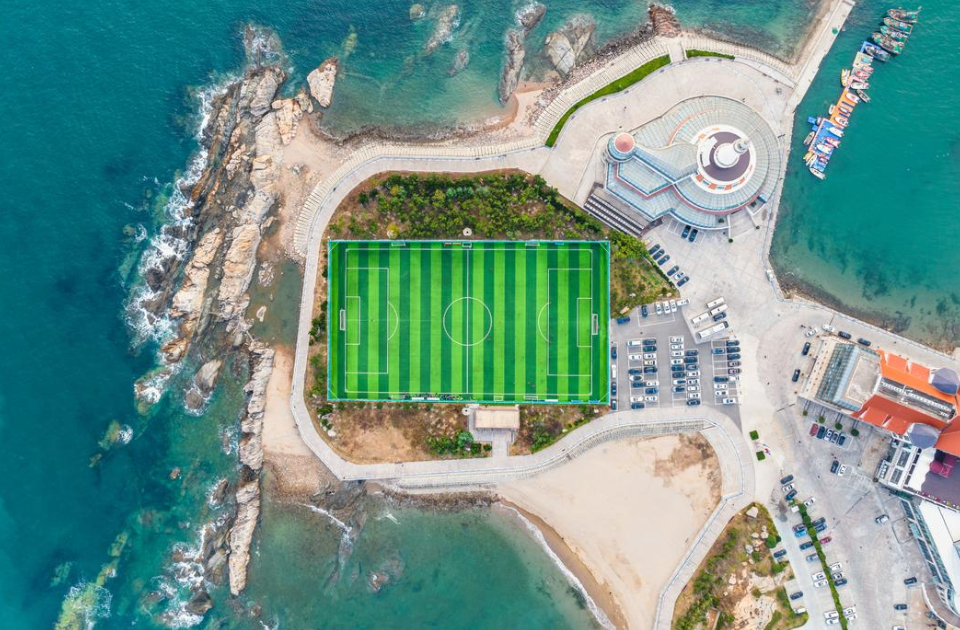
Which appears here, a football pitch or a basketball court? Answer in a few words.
football pitch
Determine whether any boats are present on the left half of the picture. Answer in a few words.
No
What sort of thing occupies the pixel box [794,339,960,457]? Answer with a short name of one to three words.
building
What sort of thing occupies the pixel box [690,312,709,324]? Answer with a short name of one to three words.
vehicle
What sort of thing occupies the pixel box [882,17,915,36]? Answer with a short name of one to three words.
boat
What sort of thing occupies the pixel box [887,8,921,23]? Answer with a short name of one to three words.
boat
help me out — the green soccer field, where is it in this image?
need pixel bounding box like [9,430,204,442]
[328,241,609,404]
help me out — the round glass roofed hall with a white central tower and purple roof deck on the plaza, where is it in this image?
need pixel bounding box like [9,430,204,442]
[604,94,783,240]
